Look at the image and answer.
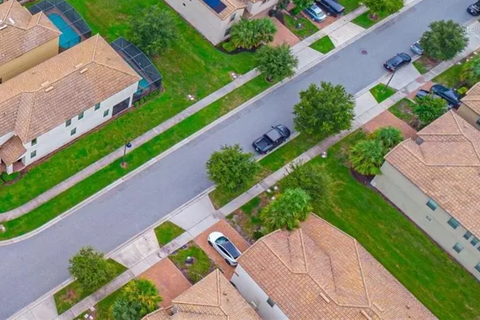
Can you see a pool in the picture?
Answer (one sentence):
Yes, the photo shows a pool.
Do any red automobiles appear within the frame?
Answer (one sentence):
No, the picture doesn't show any red automobile.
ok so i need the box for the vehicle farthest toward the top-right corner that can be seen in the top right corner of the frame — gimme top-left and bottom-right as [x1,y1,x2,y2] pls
[464,0,480,20]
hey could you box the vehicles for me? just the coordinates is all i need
[381,50,412,75]
[405,81,447,108]
[247,123,292,157]
[406,39,432,61]
[312,0,344,19]
[464,0,480,20]
[296,0,330,27]
[427,81,466,111]
[205,227,245,268]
